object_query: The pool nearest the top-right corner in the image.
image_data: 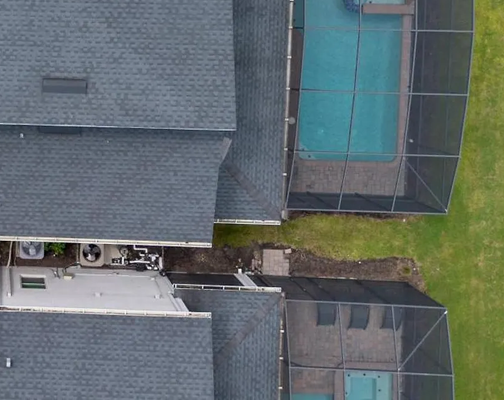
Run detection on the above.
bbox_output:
[295,0,415,169]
